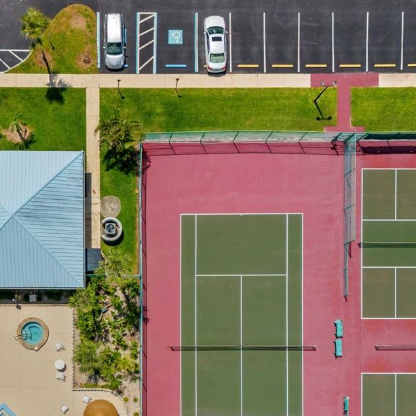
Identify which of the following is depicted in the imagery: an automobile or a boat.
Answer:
automobile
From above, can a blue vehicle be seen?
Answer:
No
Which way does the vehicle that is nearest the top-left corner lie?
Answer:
from top to bottom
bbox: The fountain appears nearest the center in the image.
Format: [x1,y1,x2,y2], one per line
[101,218,123,241]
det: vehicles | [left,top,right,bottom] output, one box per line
[205,16,230,73]
[102,12,127,70]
